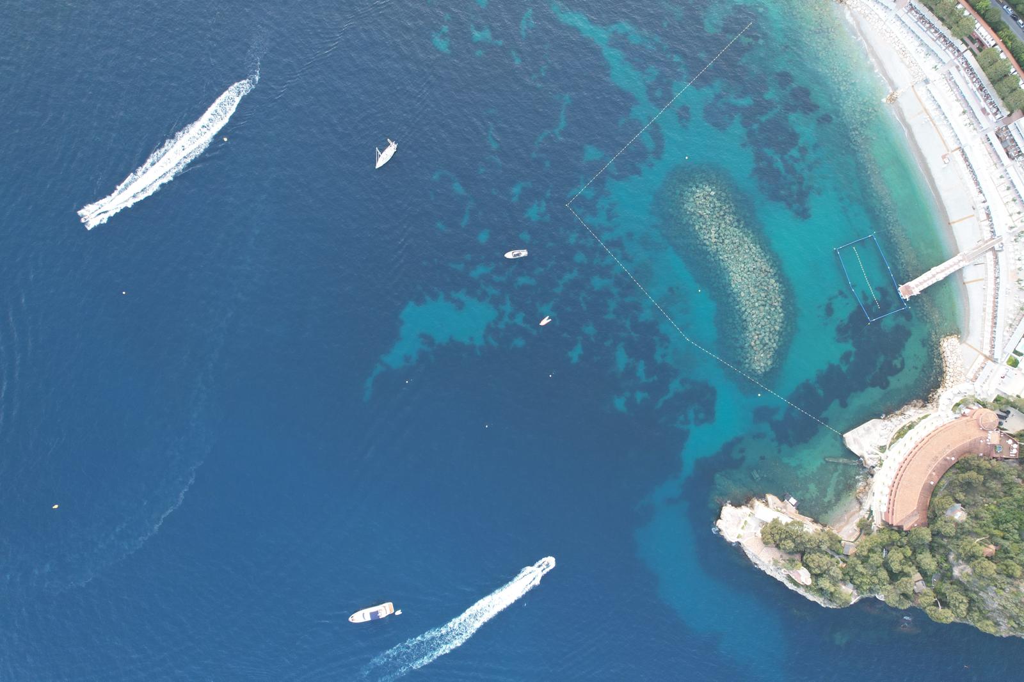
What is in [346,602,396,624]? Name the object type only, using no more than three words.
boat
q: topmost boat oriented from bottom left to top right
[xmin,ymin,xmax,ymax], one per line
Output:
[374,138,395,168]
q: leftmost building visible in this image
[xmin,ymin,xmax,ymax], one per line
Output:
[750,499,800,525]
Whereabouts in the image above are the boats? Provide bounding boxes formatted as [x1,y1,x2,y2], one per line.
[503,249,528,258]
[374,138,395,168]
[77,214,90,222]
[346,602,396,624]
[539,315,551,325]
[542,561,552,569]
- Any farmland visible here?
No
